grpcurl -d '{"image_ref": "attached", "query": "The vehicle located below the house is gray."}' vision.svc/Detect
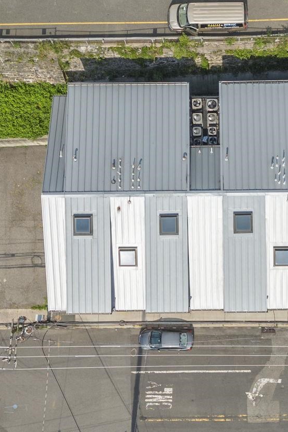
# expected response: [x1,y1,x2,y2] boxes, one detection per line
[138,325,195,353]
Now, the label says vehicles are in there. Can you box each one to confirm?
[170,0,246,40]
[138,325,195,353]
